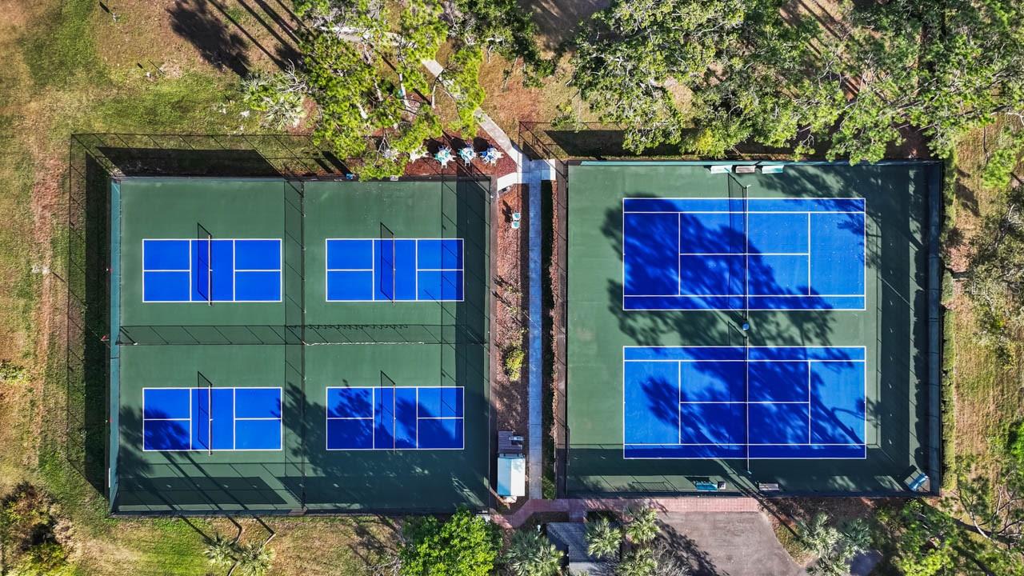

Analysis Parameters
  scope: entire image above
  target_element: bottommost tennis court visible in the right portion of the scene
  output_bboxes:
[569,329,929,492]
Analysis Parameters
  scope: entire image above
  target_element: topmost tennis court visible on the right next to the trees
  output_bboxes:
[567,168,929,329]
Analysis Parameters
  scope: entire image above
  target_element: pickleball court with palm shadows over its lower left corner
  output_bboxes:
[119,346,303,510]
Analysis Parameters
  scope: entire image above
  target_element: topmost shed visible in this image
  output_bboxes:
[498,454,526,497]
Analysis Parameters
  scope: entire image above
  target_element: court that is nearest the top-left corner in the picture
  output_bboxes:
[119,182,303,344]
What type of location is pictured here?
sports ground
